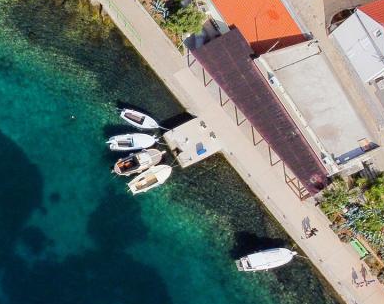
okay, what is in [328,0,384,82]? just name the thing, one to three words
house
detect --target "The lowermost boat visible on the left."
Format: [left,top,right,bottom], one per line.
[126,165,172,196]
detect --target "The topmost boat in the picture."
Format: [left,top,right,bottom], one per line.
[118,110,160,128]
